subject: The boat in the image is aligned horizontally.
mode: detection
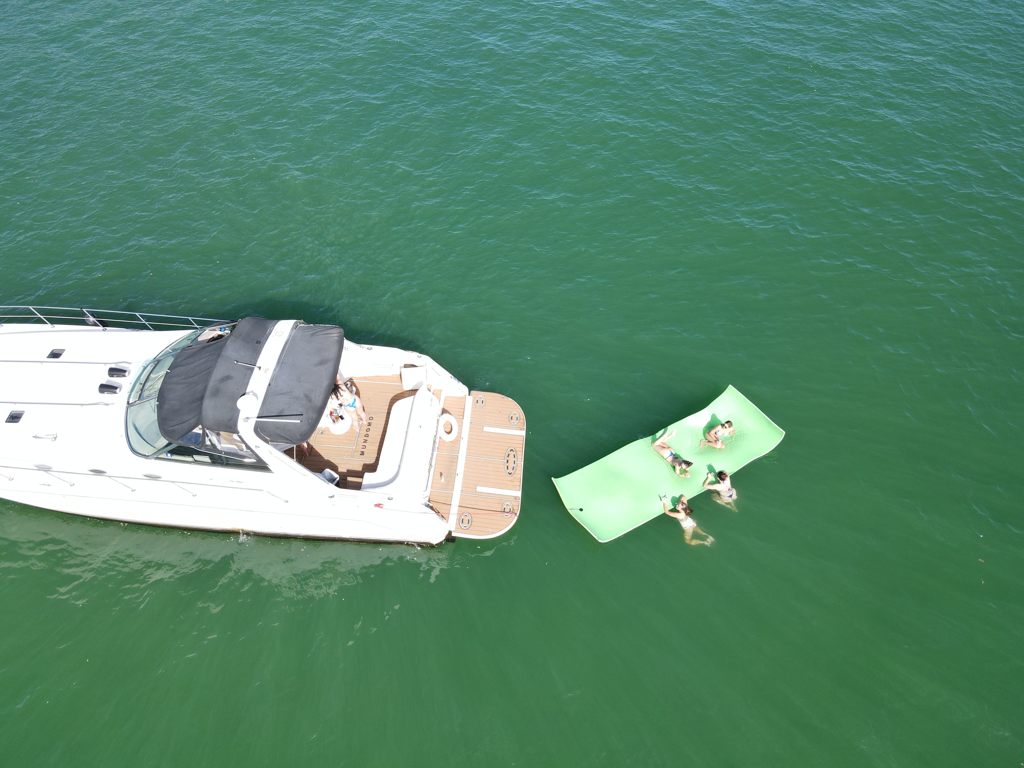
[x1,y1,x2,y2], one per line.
[0,306,527,550]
